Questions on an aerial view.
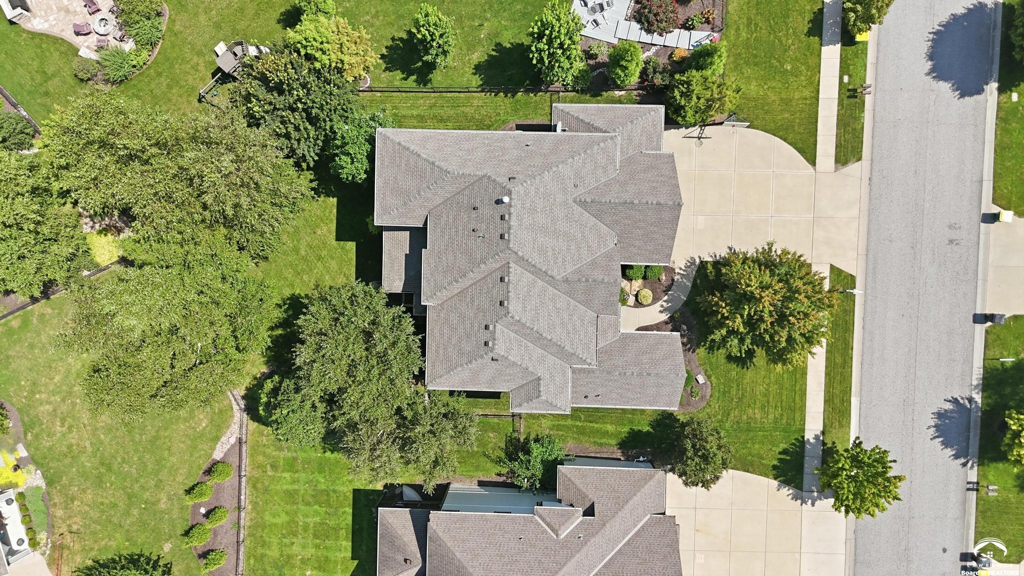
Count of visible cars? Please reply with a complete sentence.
The photo contains no cars.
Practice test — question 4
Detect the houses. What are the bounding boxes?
[375,104,687,413]
[0,535,11,576]
[377,454,684,576]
